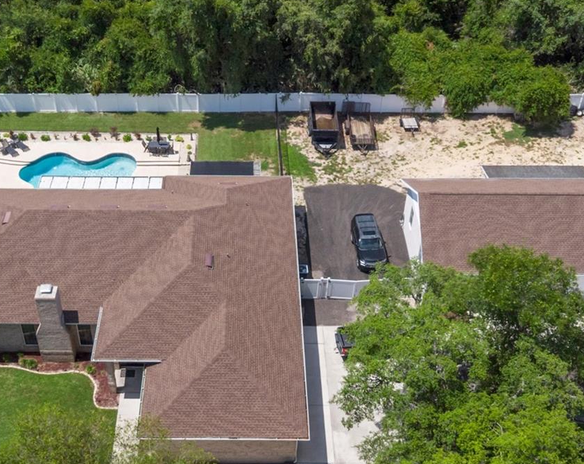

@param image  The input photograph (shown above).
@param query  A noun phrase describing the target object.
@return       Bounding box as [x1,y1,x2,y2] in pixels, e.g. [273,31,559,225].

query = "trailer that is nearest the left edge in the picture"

[306,95,341,158]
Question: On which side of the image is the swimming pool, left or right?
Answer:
left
